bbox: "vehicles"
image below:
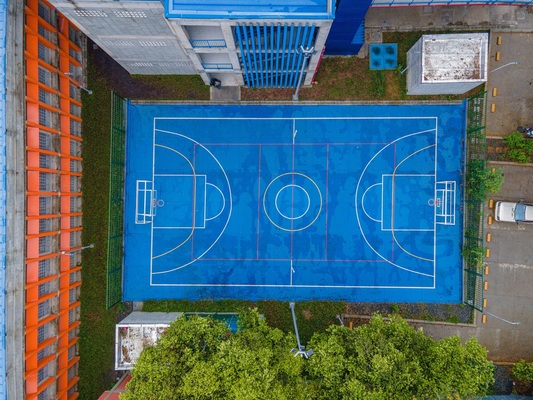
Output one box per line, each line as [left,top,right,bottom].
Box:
[494,199,533,224]
[515,122,533,133]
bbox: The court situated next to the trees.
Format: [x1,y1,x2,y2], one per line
[122,97,465,304]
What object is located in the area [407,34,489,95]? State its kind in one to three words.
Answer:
shed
